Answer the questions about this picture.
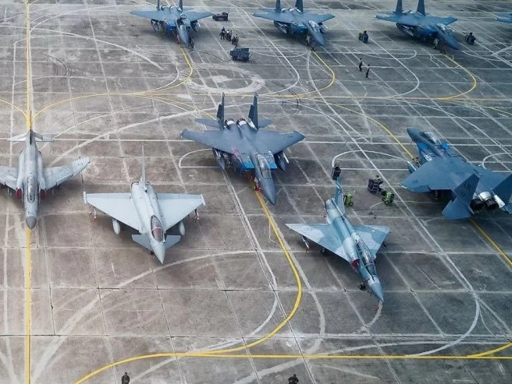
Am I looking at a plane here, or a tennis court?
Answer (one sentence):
The image shows a plane.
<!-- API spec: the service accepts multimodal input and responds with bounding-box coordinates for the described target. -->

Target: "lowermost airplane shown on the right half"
[286,180,387,308]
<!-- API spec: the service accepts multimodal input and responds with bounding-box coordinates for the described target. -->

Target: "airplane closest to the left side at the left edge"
[0,130,88,229]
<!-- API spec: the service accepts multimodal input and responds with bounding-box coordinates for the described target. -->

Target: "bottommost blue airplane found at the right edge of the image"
[401,130,512,223]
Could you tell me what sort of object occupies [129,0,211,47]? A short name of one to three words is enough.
airplane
